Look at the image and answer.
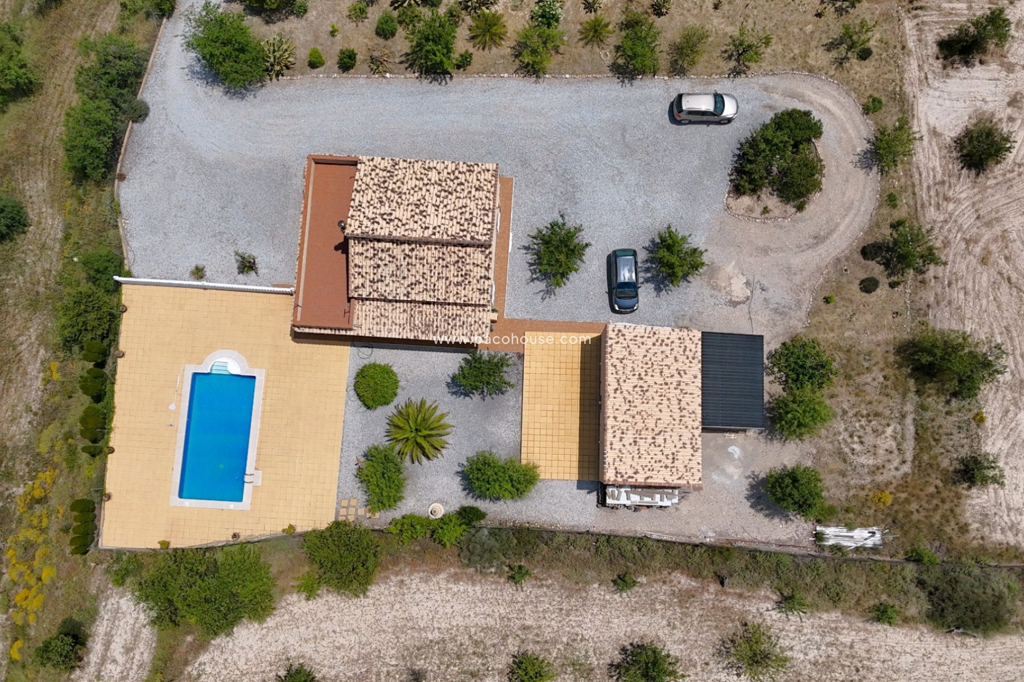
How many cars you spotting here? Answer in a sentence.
Altogether the scene contains 2 cars.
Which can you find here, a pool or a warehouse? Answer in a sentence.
Visible in the photo is a pool.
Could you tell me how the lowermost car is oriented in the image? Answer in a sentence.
The lowermost car has been laid out from top to bottom relative to the frame.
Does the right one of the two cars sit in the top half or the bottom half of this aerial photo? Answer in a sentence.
The right one of the two cars is in the top half of the image.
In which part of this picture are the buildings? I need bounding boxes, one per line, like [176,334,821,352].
[599,321,703,488]
[292,155,500,346]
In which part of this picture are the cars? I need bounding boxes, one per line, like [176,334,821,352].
[611,249,644,314]
[677,93,742,128]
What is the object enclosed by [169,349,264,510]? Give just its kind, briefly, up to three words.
swimming pool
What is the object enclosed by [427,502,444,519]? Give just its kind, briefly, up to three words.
fountain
